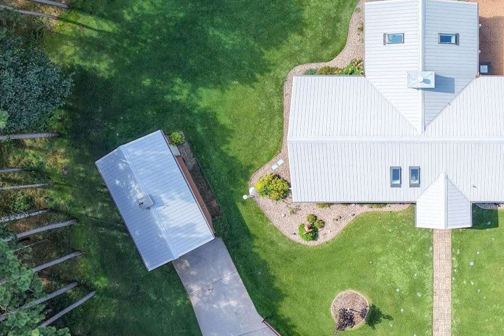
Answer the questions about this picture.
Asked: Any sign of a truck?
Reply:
No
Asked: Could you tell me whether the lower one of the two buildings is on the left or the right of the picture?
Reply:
left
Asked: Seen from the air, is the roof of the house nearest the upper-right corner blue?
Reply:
No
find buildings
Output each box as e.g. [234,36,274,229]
[94,130,217,272]
[286,0,504,230]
